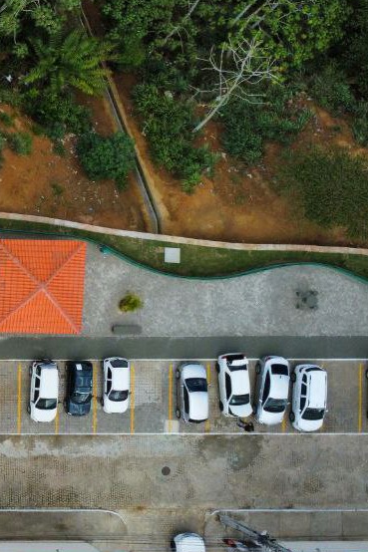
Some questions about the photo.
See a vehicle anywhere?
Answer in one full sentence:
Yes, you can see a vehicle in this photo.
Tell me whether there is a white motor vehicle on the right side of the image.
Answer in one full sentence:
Yes, on the right side of the image there is a white motor vehicle.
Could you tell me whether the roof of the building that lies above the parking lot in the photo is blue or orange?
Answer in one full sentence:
The roof of the building that lies above the parking lot is orange.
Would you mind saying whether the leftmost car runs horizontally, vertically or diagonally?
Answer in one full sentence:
Seen from above, the leftmost car lies vertically.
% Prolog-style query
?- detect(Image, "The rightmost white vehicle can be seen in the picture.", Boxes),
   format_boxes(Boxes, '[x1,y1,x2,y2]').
[289,364,330,431]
